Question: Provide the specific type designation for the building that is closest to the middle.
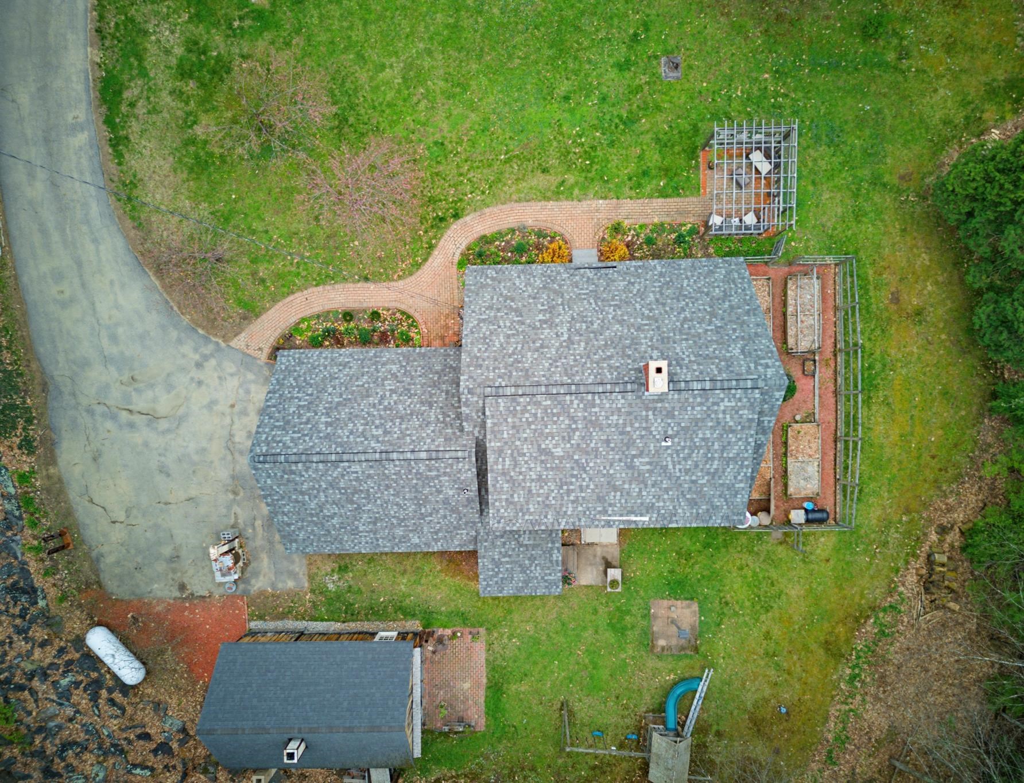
house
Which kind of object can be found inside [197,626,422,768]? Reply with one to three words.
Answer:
barn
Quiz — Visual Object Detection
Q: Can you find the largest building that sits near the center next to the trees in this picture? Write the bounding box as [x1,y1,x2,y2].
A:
[249,257,788,597]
